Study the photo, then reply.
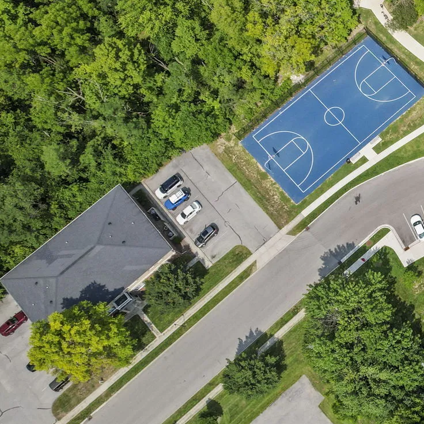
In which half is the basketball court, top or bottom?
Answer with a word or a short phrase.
top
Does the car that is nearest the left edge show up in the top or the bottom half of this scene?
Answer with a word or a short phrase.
bottom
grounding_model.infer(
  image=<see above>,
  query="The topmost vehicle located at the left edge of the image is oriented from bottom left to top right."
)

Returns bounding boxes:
[0,310,25,335]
